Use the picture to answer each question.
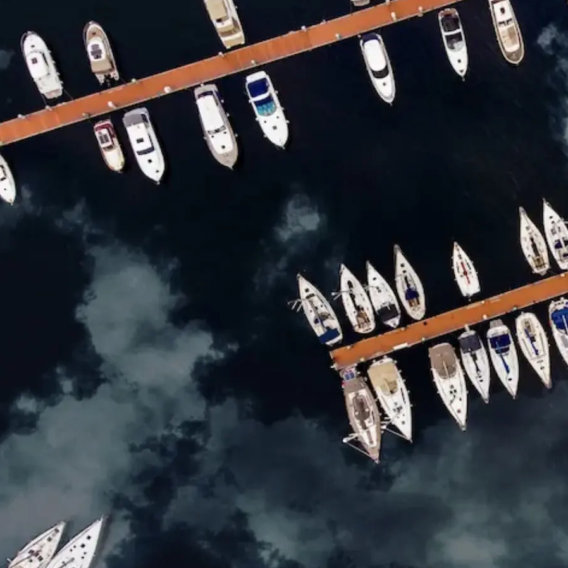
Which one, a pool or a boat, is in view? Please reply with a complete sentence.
Visible in the photo is a boat.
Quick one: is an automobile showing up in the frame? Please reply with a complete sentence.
No, the photo shows no automobile.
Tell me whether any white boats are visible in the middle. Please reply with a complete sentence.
Yes, a white boat can be seen in the middle.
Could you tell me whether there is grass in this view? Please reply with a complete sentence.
No, there is no grass in the image.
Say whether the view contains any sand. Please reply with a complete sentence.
No, there's no sand in this view.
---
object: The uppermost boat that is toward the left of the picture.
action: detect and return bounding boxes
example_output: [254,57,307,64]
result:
[206,0,245,50]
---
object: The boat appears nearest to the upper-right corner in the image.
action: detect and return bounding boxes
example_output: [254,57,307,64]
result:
[488,0,523,67]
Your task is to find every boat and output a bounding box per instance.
[341,367,358,385]
[488,0,523,67]
[450,239,480,299]
[335,261,373,334]
[427,341,472,434]
[87,19,122,85]
[247,71,290,152]
[372,358,418,445]
[392,242,425,321]
[361,32,394,107]
[548,298,568,370]
[202,83,242,173]
[42,512,109,568]
[24,29,64,101]
[291,271,340,348]
[354,0,371,8]
[487,318,522,402]
[0,155,17,206]
[95,119,126,175]
[126,108,165,187]
[516,312,553,392]
[517,204,549,276]
[540,196,568,270]
[206,0,245,50]
[459,330,491,407]
[440,8,467,85]
[342,376,386,465]
[362,258,399,329]
[2,519,68,568]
